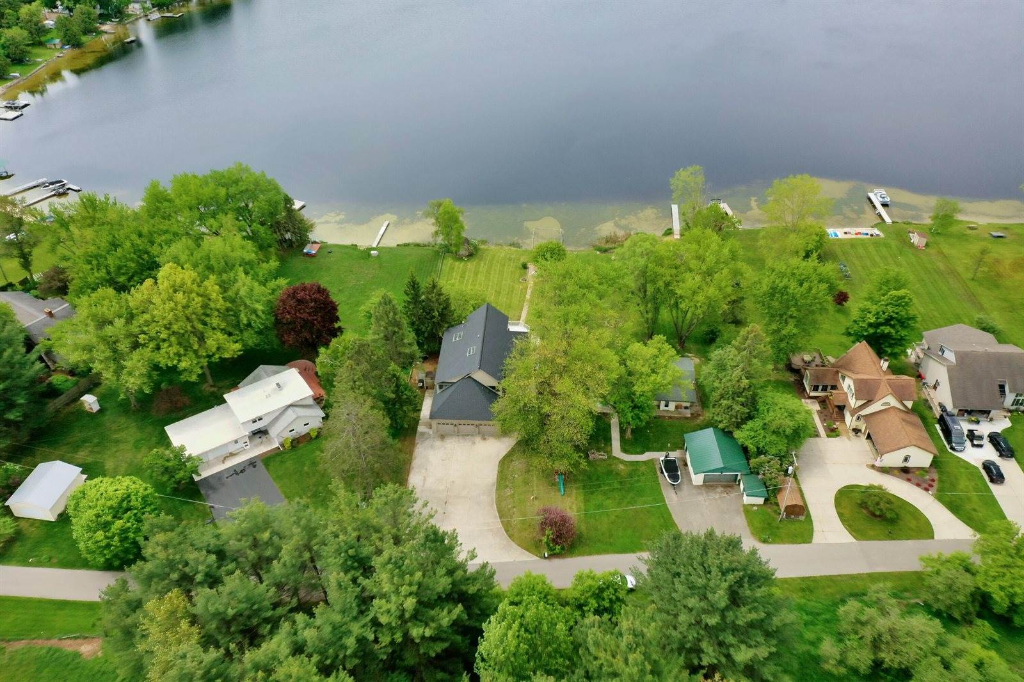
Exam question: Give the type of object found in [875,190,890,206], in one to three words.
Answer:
boat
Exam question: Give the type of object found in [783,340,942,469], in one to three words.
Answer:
house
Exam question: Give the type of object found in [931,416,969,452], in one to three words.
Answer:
van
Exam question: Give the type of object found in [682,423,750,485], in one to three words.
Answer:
building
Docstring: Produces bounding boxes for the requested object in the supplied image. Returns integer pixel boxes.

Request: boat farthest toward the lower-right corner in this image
[658,452,681,486]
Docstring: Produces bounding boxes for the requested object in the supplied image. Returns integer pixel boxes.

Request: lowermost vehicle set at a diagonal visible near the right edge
[977,459,1010,484]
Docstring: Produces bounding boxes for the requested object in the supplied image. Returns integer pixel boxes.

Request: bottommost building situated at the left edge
[5,460,90,525]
